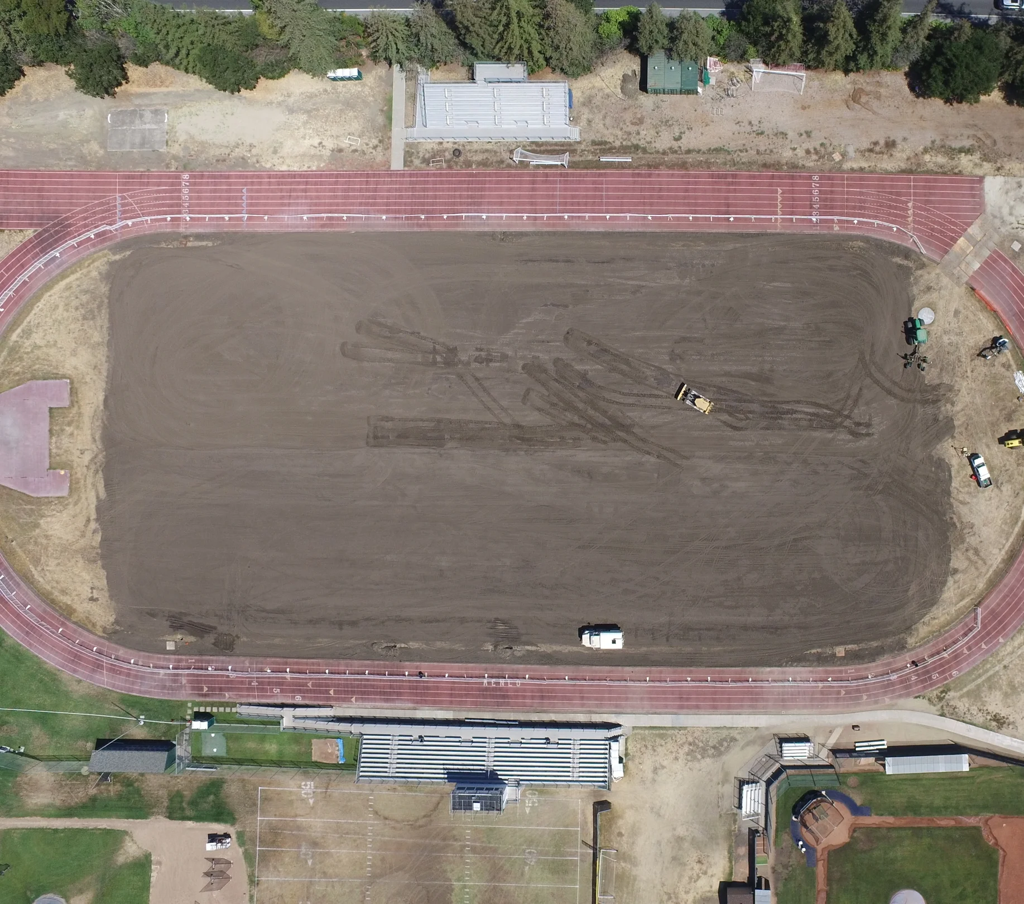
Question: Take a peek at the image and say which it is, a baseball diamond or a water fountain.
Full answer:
Visible in the photo is a baseball diamond.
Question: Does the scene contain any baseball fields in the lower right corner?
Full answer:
Yes, you'll find a baseball field in the lower right corner.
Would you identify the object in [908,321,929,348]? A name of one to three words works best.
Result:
work vehicle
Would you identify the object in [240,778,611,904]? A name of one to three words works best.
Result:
sports field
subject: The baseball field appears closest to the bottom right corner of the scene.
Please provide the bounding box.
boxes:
[767,767,1024,904]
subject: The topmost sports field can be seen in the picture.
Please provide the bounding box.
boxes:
[101,233,955,664]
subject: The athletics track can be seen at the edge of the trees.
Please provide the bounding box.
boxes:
[0,170,1024,709]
